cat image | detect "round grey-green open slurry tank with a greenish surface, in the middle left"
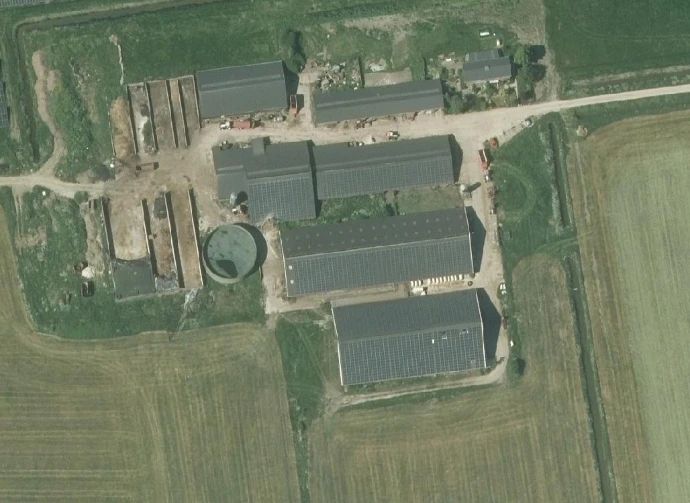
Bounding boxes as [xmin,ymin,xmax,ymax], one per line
[201,224,258,281]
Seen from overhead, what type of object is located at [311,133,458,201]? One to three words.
barn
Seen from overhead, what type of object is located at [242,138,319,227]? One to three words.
barn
